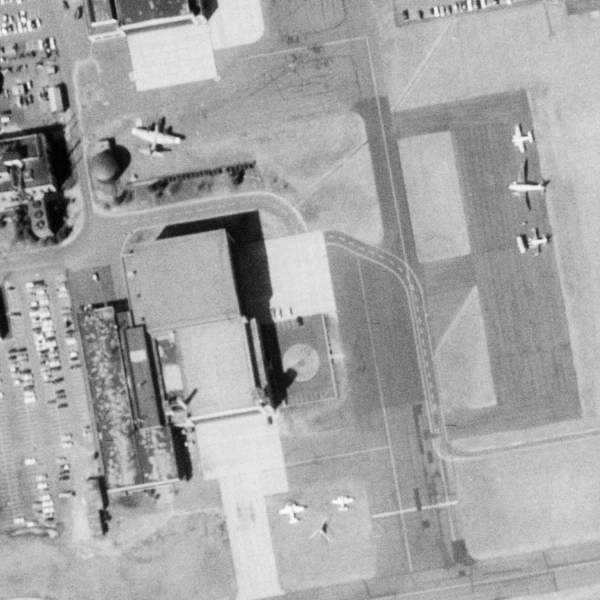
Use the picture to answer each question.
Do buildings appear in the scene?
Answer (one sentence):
Yes, there's a building here.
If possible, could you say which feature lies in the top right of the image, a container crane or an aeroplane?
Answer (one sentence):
It is an aeroplane that can be seen in the top right of the image.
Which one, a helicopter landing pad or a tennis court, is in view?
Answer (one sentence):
The one in the frame is a helicopter landing pad.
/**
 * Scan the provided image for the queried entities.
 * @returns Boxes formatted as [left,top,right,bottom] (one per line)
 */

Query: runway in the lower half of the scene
[258,541,600,600]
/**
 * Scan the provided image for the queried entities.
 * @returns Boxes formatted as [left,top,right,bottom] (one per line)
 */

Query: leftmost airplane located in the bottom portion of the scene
[278,503,304,522]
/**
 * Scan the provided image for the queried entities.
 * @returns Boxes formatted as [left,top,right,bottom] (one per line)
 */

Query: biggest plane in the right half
[507,161,543,213]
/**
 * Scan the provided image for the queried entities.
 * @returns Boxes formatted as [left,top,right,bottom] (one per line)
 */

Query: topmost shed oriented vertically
[49,87,66,115]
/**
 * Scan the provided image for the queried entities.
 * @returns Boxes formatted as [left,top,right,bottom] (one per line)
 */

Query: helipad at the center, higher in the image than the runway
[262,316,338,407]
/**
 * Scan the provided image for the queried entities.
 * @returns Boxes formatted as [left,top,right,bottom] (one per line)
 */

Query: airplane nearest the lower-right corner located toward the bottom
[332,495,353,510]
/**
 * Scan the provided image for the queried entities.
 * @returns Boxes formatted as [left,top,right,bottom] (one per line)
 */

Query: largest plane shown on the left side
[131,122,182,156]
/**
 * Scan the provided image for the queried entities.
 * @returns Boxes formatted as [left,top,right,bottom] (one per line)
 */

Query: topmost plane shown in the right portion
[512,125,531,152]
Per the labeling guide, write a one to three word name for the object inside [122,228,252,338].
hangar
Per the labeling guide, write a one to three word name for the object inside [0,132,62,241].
building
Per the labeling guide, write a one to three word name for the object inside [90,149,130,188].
storage tank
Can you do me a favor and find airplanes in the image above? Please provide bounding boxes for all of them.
[131,122,182,156]
[332,495,353,510]
[512,125,531,152]
[507,161,543,213]
[526,229,544,255]
[278,503,304,522]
